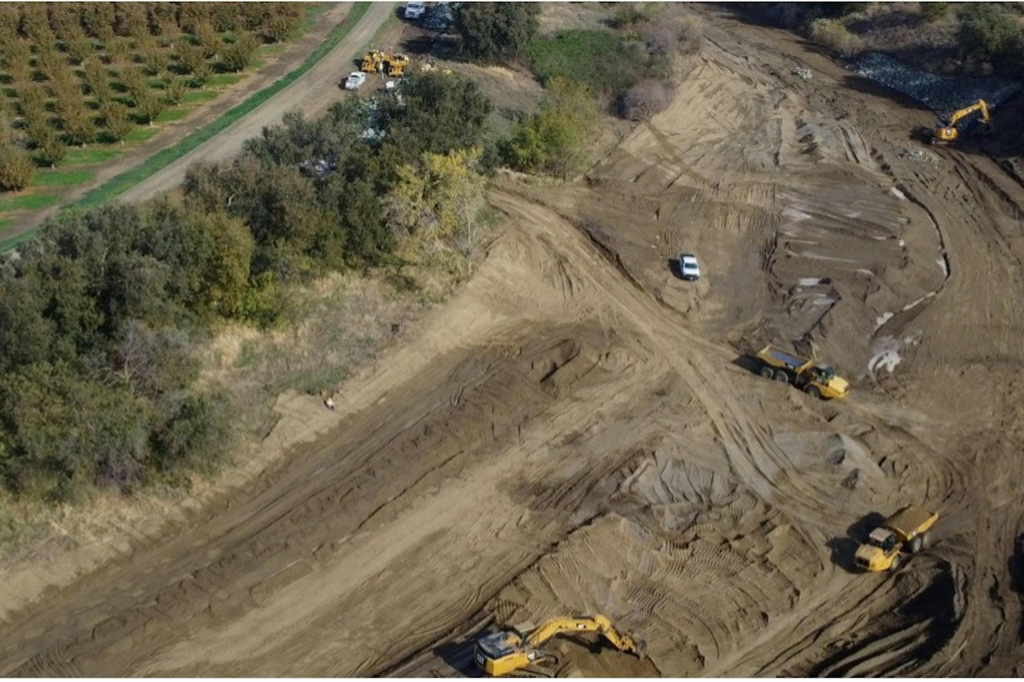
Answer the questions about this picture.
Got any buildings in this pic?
No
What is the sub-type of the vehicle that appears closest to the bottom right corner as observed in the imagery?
truck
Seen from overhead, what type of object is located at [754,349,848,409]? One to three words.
truck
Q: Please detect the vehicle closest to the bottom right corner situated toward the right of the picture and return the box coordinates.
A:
[850,502,934,578]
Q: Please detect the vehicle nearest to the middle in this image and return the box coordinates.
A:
[683,253,702,282]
